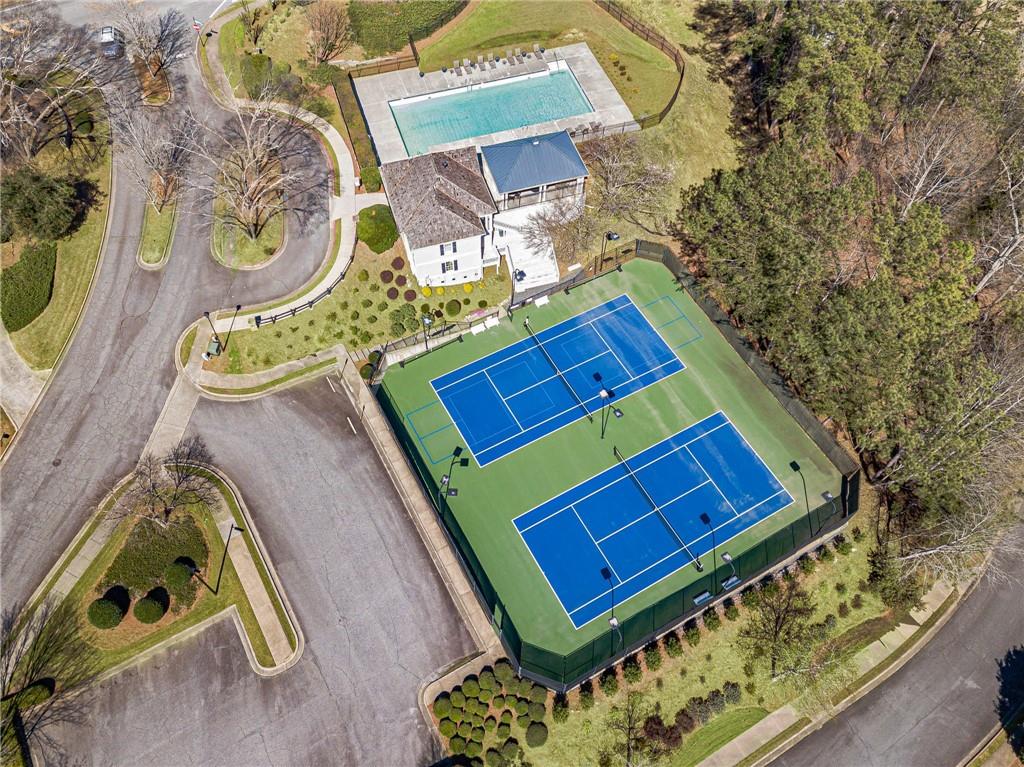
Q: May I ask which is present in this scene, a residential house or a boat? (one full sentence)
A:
Looking from above, you can make out a residential house.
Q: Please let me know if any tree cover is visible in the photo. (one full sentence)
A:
Yes, there is tree cover in the image.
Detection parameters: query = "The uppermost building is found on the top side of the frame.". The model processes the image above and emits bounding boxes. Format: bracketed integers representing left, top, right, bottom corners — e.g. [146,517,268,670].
[480,131,589,210]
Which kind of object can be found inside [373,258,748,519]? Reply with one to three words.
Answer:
tennis court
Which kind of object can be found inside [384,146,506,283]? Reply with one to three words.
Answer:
house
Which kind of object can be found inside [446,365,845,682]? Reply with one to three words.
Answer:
tennis court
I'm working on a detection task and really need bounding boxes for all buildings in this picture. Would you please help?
[384,146,506,283]
[480,131,589,210]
